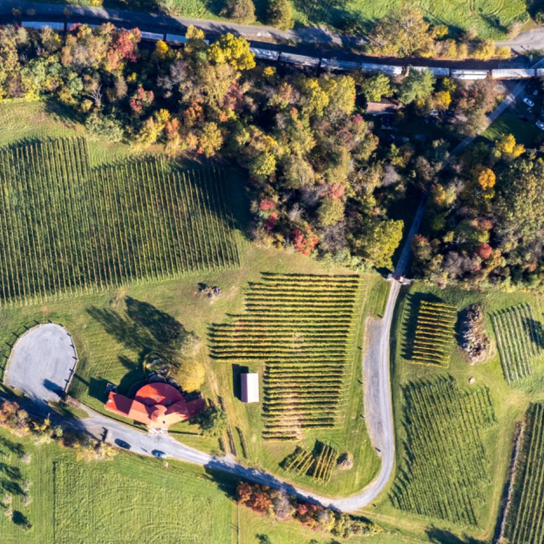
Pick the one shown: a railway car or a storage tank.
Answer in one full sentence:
The one in the frame is a railway car.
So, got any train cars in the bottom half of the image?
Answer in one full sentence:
No, no train car appears in the bottom half of the image.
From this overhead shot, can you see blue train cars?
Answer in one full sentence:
Yes, a blue train car is visible in the scene.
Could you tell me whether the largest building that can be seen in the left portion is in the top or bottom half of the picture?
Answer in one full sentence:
The largest building that can be seen in the left portion is in the bottom half of the image.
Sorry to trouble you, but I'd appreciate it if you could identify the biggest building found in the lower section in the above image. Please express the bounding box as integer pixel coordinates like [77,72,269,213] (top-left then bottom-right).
[106,373,205,436]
